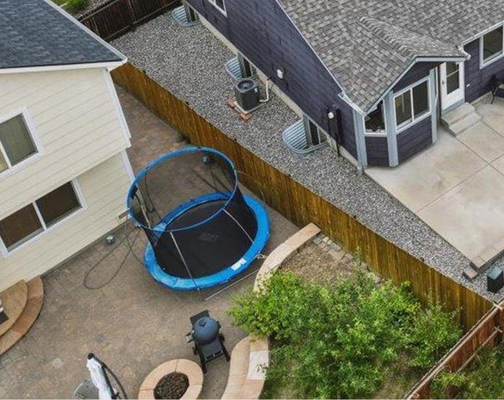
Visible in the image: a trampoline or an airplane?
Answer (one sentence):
The one in the frame is a trampoline.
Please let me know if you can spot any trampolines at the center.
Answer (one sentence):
Yes, I can see a trampoline at the center.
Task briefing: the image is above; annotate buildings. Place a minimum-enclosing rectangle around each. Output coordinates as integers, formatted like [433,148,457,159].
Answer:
[183,0,504,176]
[0,0,143,291]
